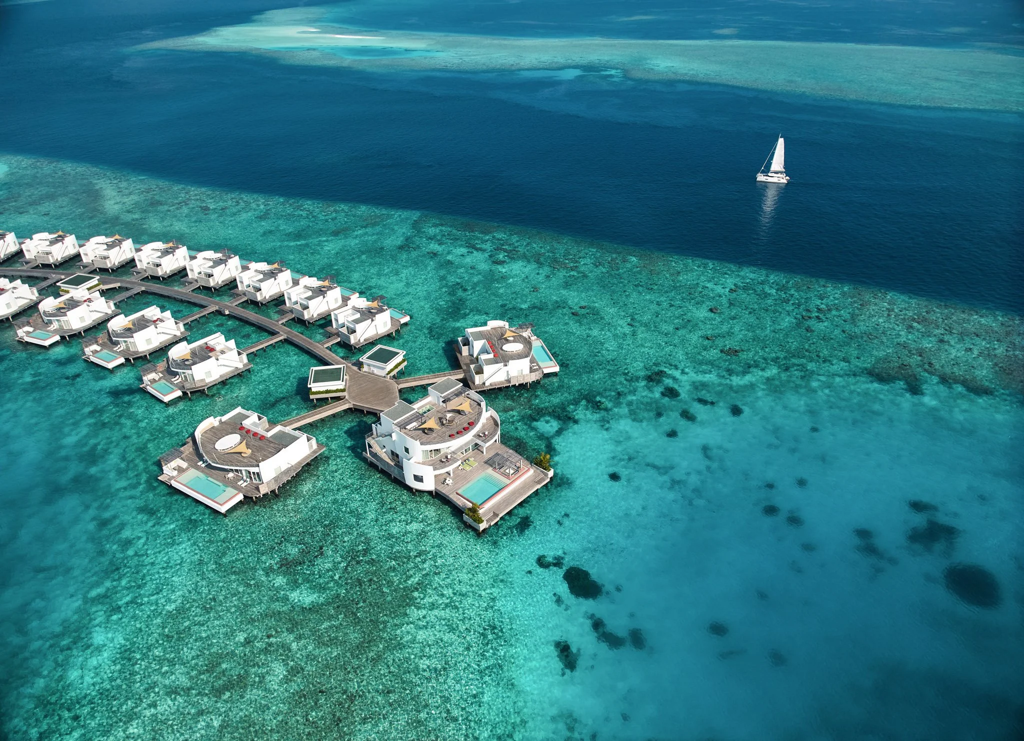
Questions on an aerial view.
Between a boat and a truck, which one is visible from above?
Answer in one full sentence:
The image shows a boat.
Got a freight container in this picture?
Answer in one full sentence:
No, no freight container is visible in the scene.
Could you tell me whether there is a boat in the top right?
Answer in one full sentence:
Yes, looking in the top right, one can make out a boat.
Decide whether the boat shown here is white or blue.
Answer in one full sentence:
The boat looks white in the image.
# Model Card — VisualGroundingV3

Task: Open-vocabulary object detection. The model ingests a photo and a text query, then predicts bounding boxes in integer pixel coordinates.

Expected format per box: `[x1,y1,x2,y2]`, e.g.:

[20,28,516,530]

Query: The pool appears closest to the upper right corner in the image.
[530,337,560,374]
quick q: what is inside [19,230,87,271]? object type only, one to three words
house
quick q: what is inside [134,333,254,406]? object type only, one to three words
house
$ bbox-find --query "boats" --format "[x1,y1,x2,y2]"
[755,132,792,184]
